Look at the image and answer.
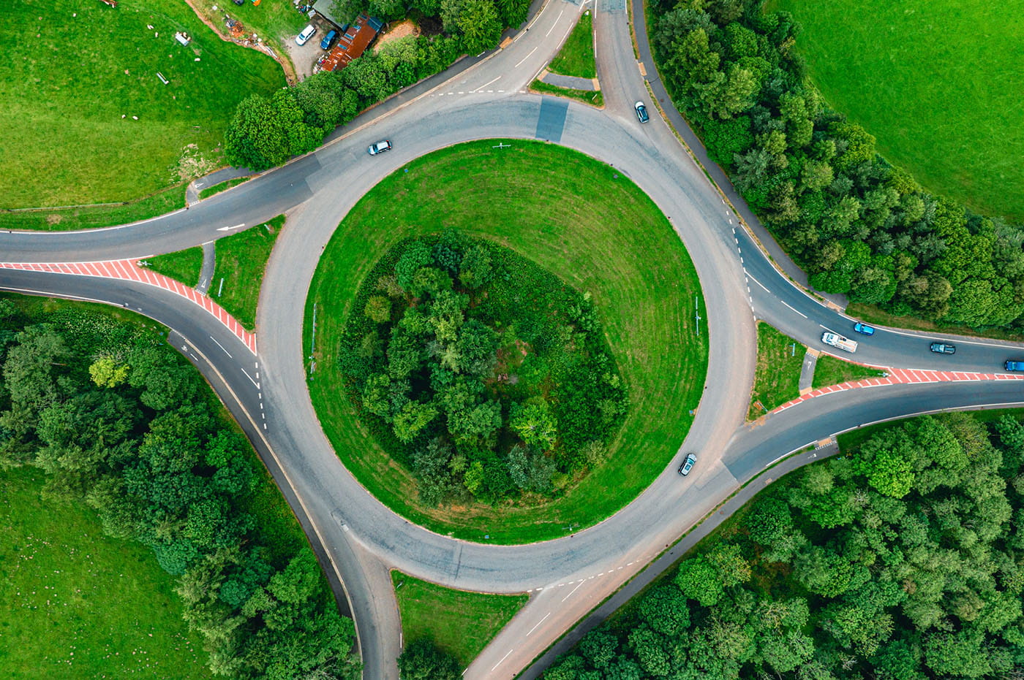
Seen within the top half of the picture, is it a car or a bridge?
car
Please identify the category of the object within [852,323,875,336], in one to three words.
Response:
vehicle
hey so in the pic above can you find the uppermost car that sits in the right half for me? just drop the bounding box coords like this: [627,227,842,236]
[634,101,649,124]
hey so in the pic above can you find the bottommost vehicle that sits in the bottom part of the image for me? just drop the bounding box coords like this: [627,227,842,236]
[678,452,696,478]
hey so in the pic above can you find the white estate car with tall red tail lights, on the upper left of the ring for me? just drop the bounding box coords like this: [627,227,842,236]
[368,139,393,155]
